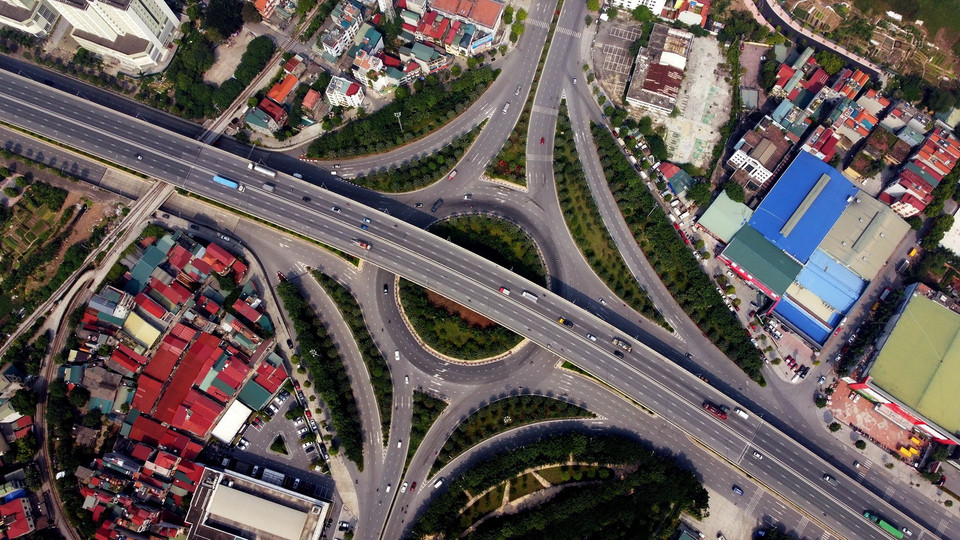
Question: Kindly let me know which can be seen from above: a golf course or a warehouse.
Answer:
warehouse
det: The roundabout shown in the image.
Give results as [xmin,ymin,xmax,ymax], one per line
[377,198,567,384]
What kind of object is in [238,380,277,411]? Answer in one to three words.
house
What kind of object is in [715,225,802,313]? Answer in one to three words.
building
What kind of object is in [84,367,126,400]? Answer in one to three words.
house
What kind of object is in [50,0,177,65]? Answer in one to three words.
building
